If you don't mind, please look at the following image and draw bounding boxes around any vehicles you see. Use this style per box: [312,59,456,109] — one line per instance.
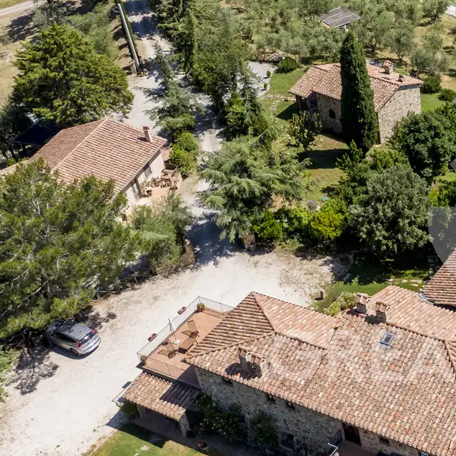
[36,312,103,350]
